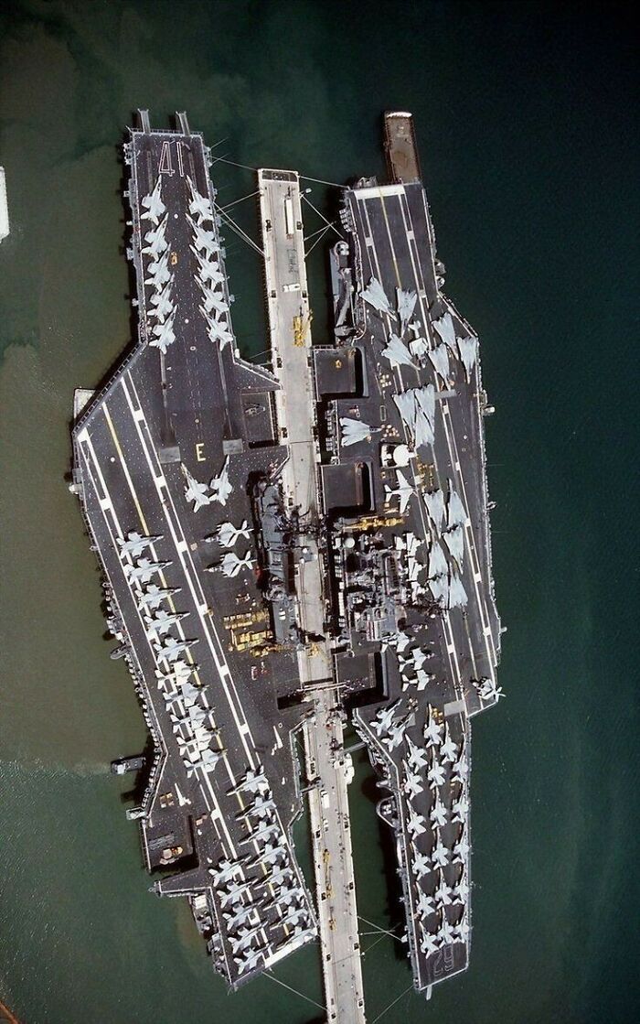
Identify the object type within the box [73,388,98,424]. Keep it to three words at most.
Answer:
ship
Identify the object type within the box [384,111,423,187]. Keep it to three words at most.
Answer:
ship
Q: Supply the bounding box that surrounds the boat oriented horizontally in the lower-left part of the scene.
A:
[111,755,146,774]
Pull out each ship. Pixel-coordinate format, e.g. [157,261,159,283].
[0,167,12,240]
[384,111,423,187]
[313,175,507,998]
[73,388,98,424]
[68,107,324,994]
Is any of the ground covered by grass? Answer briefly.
No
